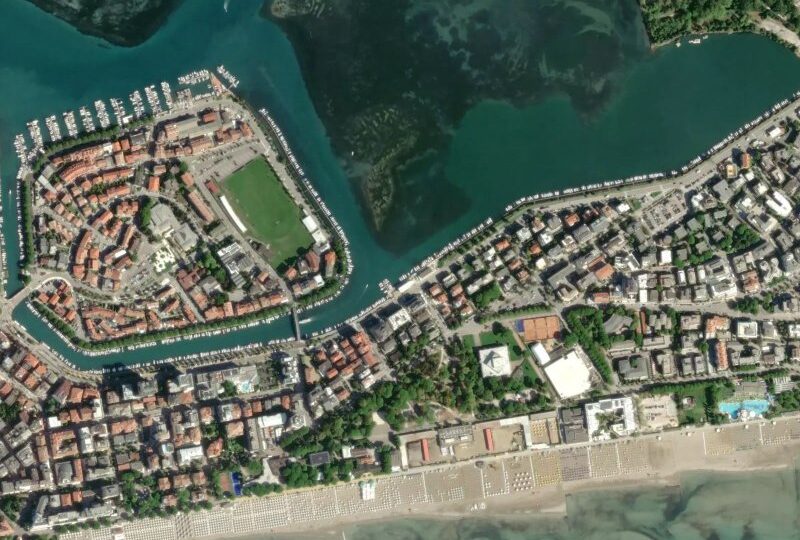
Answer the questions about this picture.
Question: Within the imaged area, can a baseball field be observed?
No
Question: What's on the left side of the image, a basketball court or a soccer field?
soccer field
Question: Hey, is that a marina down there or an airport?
marina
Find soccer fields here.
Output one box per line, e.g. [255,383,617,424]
[220,156,313,266]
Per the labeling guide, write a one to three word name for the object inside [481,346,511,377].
building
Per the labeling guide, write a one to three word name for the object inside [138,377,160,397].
building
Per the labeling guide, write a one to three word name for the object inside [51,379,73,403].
house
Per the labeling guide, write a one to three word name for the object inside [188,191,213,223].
house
